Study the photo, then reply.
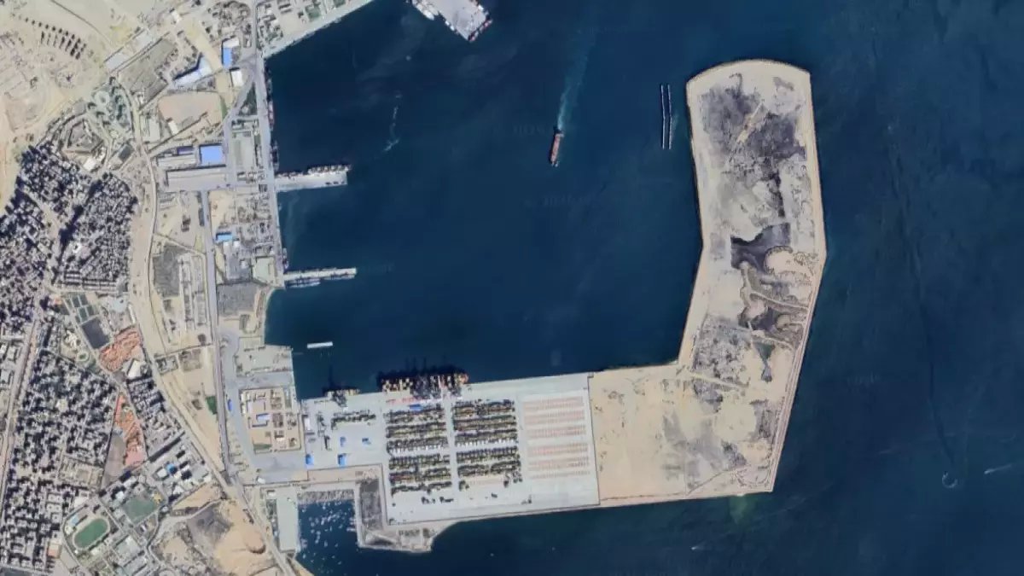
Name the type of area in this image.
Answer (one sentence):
This looks like a port.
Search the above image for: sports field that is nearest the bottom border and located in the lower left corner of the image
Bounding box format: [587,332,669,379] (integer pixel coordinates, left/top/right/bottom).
[74,517,109,548]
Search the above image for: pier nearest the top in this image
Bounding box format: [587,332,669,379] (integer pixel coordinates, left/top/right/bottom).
[414,0,489,39]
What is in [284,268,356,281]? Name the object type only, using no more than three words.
pier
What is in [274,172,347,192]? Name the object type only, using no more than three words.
pier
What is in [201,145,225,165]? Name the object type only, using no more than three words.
building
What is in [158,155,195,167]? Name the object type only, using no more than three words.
building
